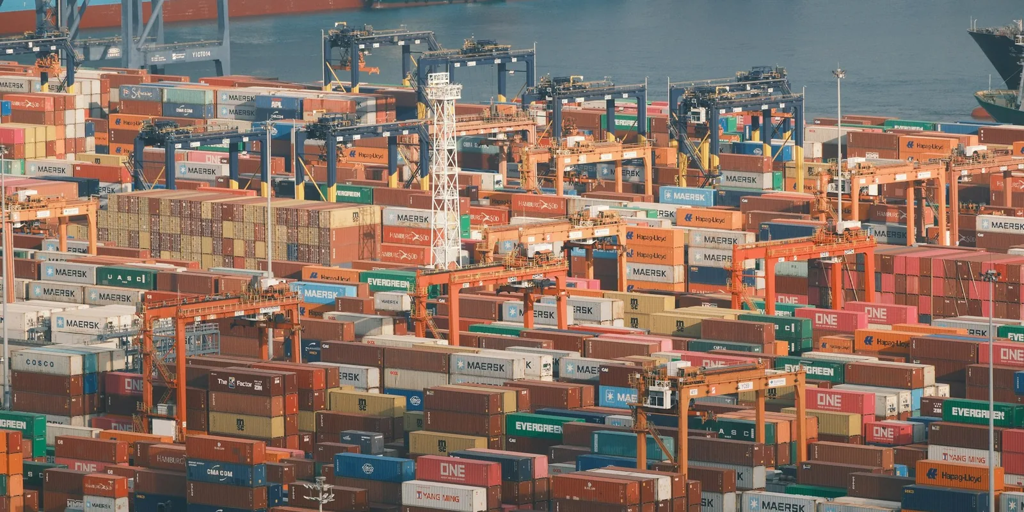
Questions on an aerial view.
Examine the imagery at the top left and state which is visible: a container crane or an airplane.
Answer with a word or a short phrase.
container crane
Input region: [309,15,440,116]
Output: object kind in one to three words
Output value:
container crane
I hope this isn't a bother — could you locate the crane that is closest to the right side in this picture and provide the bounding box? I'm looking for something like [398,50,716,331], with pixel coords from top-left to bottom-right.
[901,142,1024,254]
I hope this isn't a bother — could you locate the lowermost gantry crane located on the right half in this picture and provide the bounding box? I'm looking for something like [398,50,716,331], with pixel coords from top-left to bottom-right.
[618,351,807,493]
